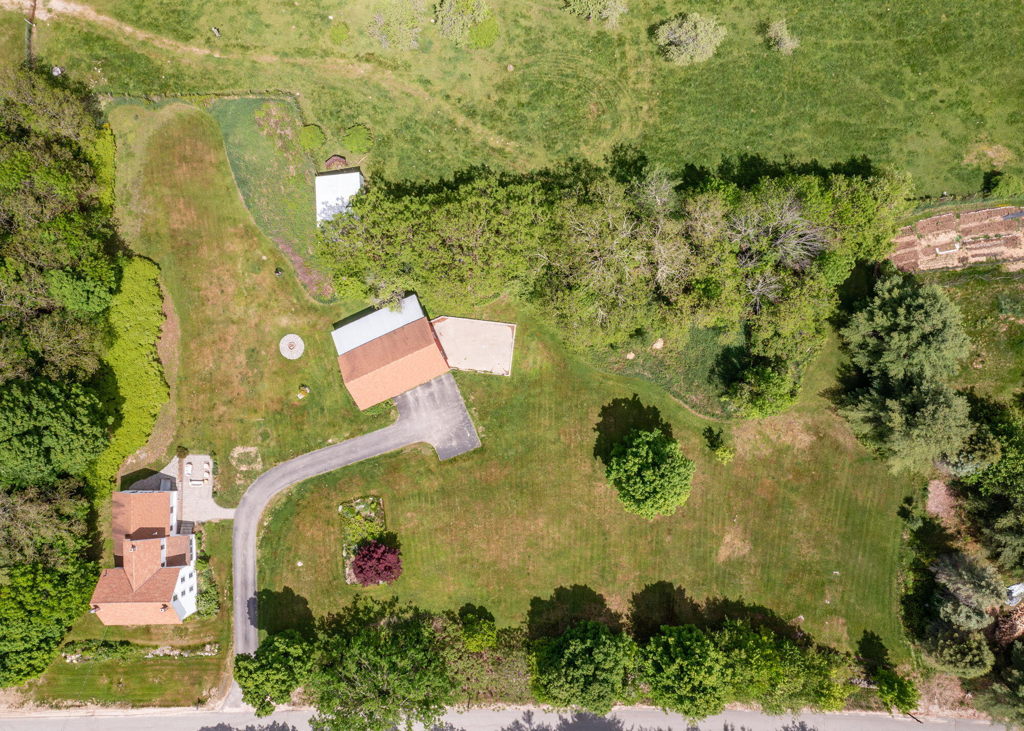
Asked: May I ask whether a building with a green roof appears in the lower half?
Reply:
No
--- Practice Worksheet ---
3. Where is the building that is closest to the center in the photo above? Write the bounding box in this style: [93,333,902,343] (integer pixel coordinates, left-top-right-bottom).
[332,297,450,411]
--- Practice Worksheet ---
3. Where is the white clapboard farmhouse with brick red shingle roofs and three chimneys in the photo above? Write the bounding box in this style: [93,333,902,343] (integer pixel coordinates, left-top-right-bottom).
[89,490,197,625]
